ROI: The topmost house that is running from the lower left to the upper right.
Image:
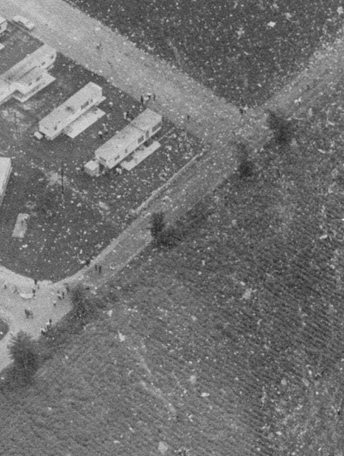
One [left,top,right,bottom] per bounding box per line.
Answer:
[0,43,57,103]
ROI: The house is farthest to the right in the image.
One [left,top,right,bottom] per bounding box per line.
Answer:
[95,108,163,169]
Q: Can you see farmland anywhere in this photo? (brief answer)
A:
Yes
